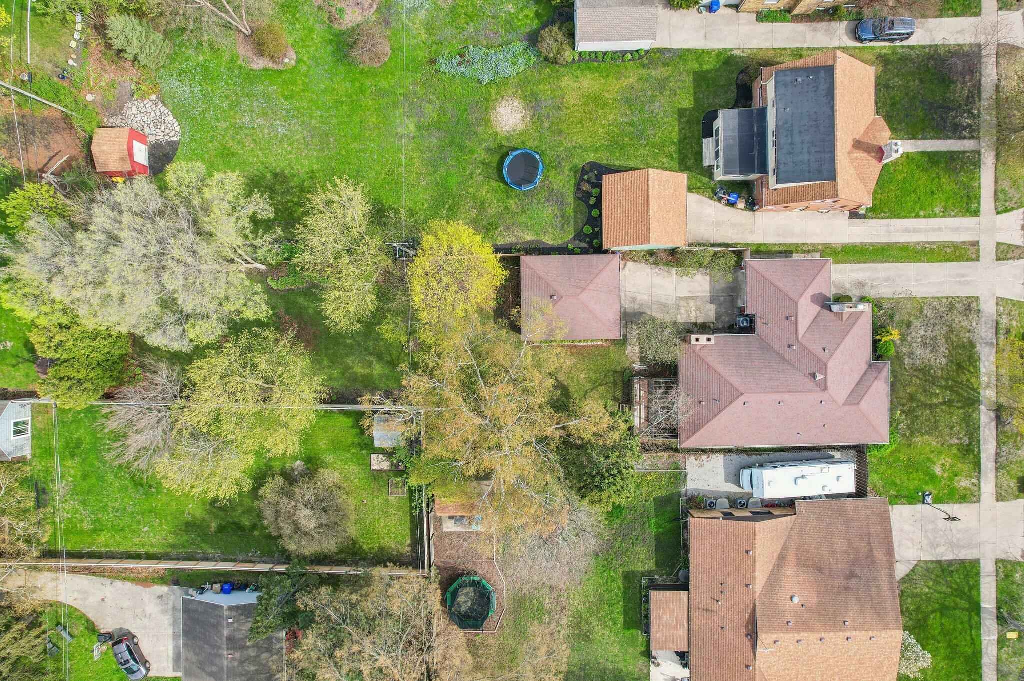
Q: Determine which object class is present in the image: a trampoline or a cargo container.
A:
trampoline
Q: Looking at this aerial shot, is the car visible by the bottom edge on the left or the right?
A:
left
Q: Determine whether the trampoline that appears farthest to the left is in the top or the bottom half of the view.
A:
bottom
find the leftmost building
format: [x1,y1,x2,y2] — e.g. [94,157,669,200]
[0,401,33,463]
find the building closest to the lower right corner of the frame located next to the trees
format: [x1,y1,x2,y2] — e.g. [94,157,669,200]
[646,494,903,681]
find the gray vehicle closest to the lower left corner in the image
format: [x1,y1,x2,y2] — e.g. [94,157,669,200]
[111,634,152,681]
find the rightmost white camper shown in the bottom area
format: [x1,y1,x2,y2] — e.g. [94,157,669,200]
[731,457,852,498]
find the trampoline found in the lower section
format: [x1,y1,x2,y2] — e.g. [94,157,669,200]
[444,573,496,629]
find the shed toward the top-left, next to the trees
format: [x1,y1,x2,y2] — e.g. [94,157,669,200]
[91,128,151,176]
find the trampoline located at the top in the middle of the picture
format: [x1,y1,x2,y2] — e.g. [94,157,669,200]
[502,145,545,193]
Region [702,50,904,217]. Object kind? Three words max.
house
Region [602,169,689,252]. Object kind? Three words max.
building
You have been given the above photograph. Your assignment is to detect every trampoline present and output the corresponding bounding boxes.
[444,573,496,629]
[502,145,545,193]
